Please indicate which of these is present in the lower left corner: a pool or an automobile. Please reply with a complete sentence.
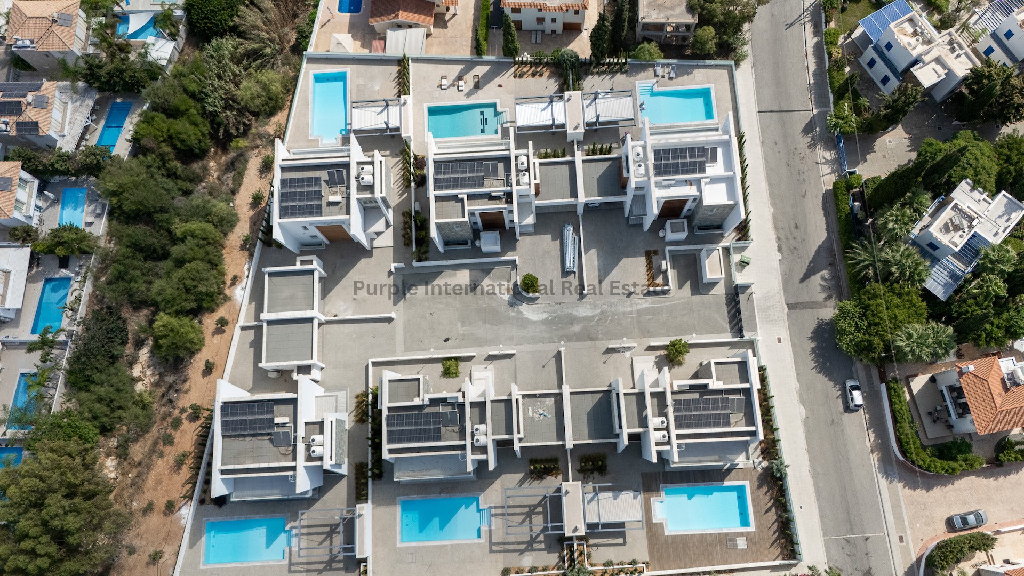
You can see a pool in the lower left corner.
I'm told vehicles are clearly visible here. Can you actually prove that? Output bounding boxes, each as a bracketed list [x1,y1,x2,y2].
[841,378,866,412]
[946,509,990,532]
[587,203,601,209]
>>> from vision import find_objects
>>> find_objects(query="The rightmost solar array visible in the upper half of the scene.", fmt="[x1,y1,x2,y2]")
[654,146,705,177]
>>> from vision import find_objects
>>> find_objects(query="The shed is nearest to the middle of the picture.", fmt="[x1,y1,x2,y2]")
[480,230,501,253]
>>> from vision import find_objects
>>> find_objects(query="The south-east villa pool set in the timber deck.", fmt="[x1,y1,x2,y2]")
[651,478,752,536]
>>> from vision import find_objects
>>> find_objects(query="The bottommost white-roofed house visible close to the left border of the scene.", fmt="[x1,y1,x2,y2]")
[0,247,43,315]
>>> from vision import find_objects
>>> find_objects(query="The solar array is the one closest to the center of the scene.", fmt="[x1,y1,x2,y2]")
[435,160,484,191]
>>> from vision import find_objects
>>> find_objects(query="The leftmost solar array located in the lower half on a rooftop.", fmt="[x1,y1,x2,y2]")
[223,400,276,436]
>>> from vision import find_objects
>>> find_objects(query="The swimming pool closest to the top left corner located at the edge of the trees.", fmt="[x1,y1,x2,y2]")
[114,7,162,41]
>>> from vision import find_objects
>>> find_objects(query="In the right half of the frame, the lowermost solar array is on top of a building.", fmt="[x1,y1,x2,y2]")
[674,396,730,430]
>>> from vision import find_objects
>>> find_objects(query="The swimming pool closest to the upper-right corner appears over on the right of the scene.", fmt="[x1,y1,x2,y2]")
[636,79,717,128]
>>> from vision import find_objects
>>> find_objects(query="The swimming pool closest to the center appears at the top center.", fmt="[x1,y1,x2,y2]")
[424,99,511,144]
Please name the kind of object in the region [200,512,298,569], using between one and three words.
swimming pool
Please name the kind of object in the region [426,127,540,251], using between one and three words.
house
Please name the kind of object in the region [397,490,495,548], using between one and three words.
swimming pool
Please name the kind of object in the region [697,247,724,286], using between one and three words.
shed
